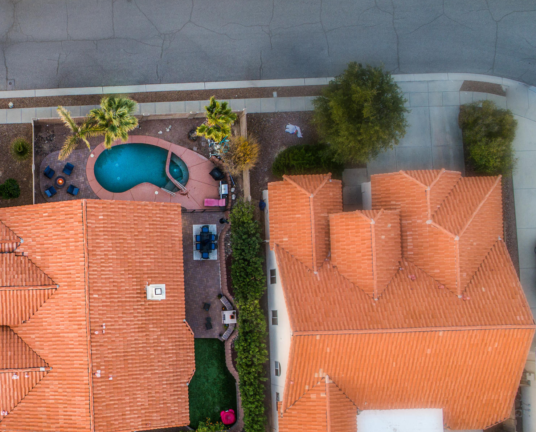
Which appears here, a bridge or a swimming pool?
swimming pool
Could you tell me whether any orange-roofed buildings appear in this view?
Yes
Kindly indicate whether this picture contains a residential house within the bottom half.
Yes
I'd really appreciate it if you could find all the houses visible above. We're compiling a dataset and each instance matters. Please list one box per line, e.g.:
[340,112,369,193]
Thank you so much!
[262,167,536,432]
[0,198,198,432]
